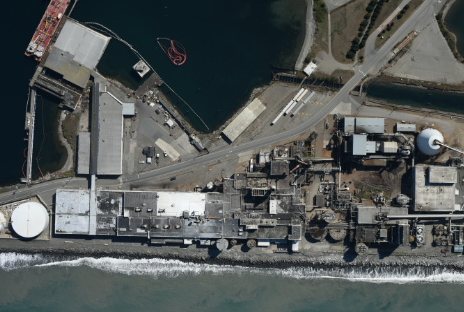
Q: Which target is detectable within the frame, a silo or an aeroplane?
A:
silo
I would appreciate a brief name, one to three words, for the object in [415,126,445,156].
silo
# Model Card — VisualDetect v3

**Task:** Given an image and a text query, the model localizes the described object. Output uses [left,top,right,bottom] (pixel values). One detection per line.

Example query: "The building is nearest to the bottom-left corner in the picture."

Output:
[54,213,90,234]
